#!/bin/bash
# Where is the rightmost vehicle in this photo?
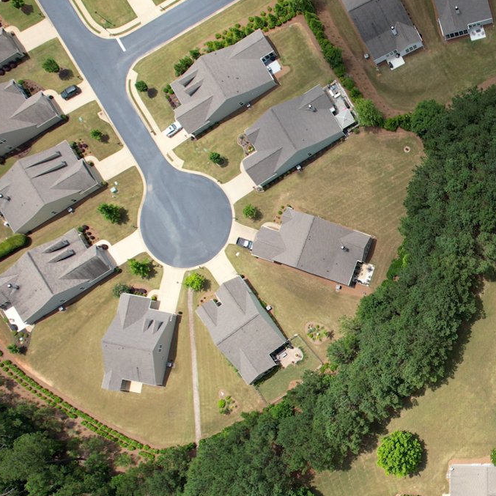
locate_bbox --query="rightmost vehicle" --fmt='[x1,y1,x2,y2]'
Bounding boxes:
[230,235,251,250]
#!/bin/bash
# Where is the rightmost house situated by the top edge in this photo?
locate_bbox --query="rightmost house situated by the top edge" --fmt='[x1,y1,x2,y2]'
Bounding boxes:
[435,0,493,39]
